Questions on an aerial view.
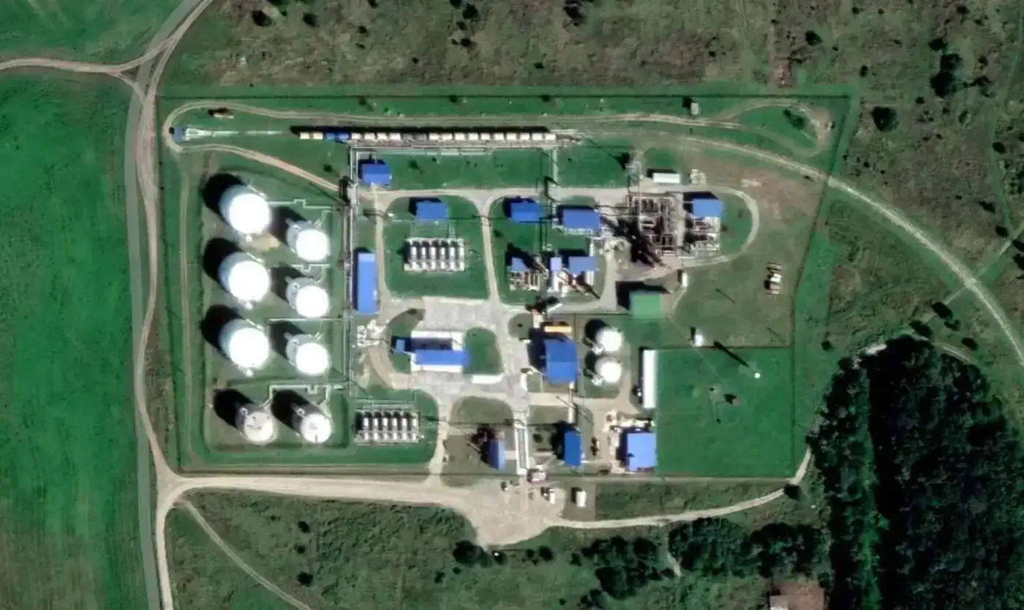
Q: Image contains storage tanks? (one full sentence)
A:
Yes, the photo shows a storage tank.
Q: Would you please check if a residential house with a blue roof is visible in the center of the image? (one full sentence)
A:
Yes, a residential house with a blue roof is visible in the center of the image.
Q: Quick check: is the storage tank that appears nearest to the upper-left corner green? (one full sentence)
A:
No, from above the storage tank that appears nearest to the upper-left corner looks white.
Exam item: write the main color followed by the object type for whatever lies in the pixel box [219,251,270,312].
white storage tank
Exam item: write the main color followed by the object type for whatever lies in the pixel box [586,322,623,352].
white water tank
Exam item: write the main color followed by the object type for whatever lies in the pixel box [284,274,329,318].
white storage tank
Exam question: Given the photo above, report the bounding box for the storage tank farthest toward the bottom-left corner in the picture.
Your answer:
[232,400,274,443]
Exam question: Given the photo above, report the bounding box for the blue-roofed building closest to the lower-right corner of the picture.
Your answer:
[623,429,657,472]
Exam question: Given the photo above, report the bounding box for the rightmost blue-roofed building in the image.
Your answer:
[687,195,722,217]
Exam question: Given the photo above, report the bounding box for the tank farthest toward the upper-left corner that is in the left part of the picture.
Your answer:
[220,182,270,243]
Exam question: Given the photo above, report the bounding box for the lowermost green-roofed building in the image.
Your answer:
[626,288,664,317]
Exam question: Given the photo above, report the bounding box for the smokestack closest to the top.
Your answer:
[572,275,602,298]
